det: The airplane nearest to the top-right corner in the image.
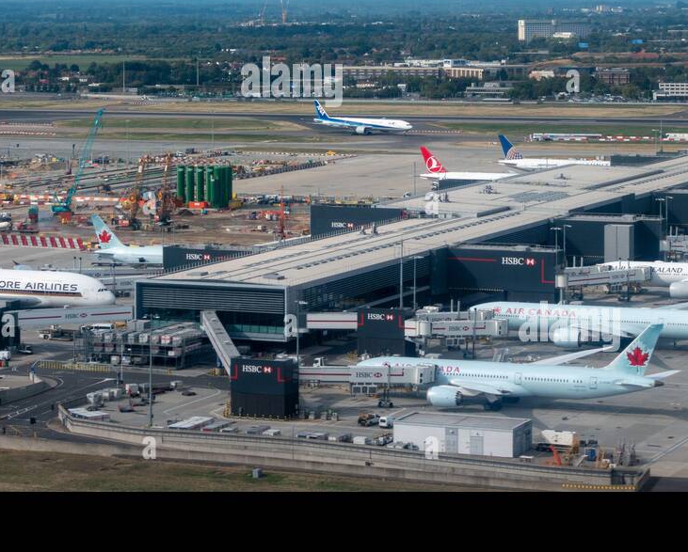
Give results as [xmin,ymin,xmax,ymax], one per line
[489,134,614,170]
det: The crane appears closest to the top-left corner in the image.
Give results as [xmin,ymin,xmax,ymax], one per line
[49,106,106,223]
